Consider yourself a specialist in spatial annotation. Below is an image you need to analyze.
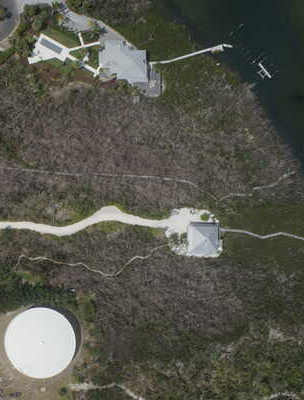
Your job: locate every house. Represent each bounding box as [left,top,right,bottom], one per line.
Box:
[99,39,160,95]
[185,223,220,256]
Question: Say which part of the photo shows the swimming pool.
top left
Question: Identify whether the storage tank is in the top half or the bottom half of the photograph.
bottom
